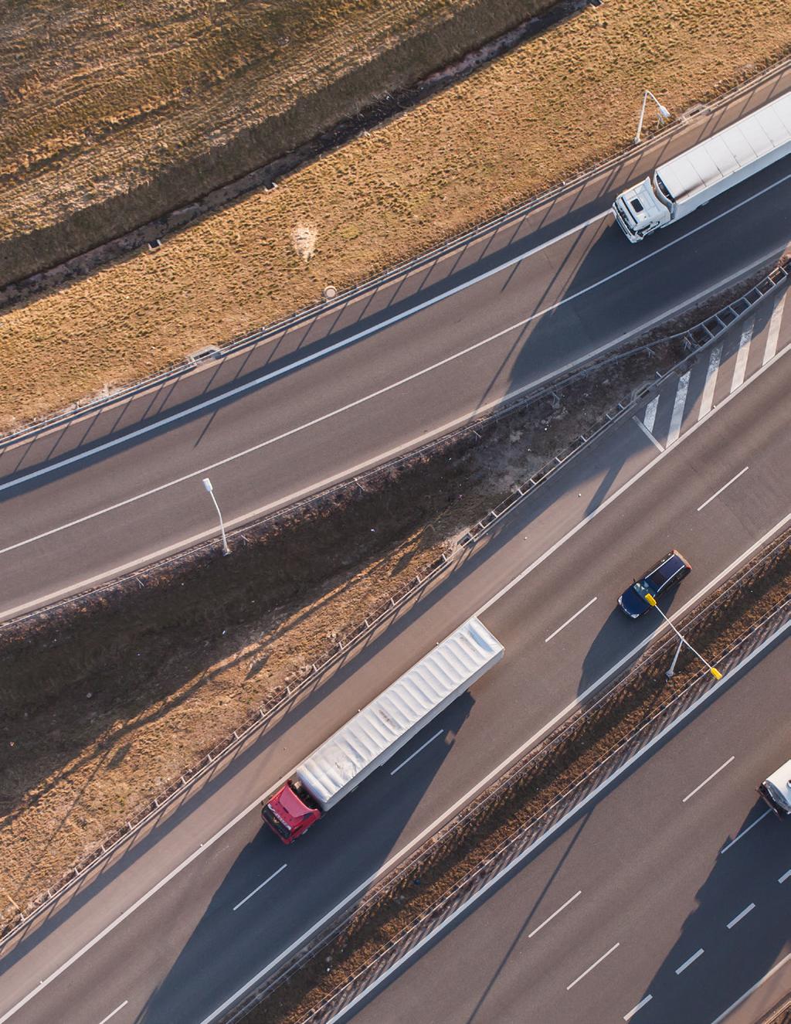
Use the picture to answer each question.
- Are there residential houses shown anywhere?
No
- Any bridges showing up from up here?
No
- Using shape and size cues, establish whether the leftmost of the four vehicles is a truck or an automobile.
truck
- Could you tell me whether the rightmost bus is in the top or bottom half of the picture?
bottom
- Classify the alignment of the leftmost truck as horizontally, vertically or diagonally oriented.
diagonally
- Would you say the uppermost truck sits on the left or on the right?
right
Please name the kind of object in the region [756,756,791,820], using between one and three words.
bus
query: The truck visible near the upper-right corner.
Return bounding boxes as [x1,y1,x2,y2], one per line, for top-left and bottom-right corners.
[611,94,791,246]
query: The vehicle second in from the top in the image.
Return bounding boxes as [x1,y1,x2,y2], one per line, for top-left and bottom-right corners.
[617,549,692,617]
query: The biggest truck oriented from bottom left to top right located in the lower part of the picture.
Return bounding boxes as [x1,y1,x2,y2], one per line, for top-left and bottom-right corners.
[255,618,505,849]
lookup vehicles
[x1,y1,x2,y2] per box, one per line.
[756,756,791,820]
[611,94,791,246]
[255,618,505,849]
[617,549,692,617]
